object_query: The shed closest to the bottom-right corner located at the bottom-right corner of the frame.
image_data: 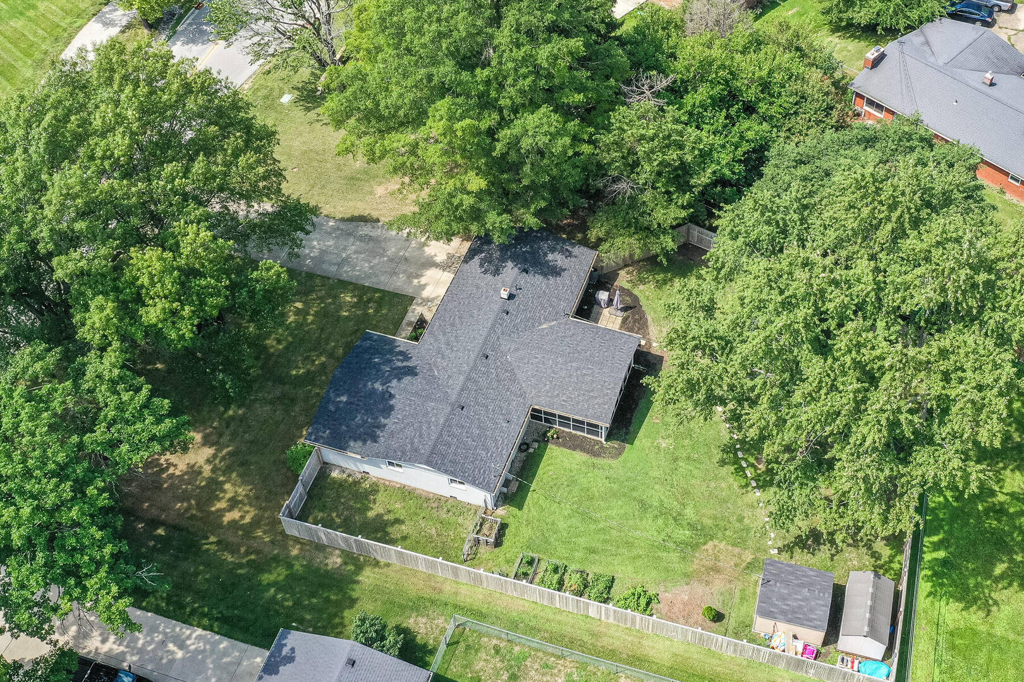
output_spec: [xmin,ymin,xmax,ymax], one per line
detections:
[837,573,896,658]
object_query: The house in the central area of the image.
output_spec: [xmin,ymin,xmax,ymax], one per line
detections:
[304,224,659,516]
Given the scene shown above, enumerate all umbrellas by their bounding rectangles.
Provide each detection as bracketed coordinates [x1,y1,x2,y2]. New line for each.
[608,289,624,318]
